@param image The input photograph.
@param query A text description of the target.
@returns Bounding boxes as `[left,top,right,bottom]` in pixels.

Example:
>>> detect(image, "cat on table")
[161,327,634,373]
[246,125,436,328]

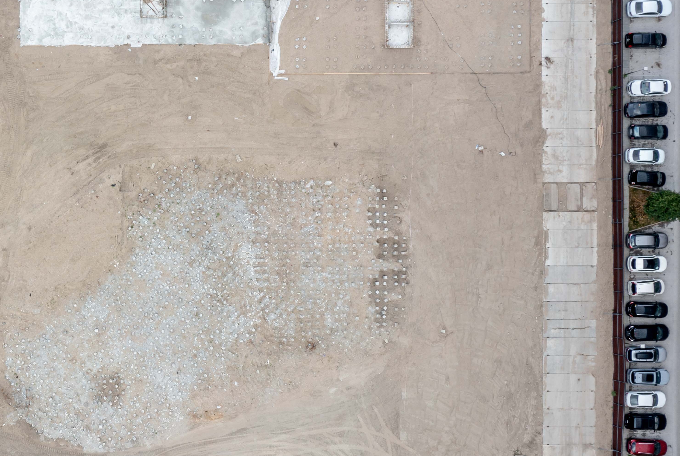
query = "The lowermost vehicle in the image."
[624,437,667,456]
